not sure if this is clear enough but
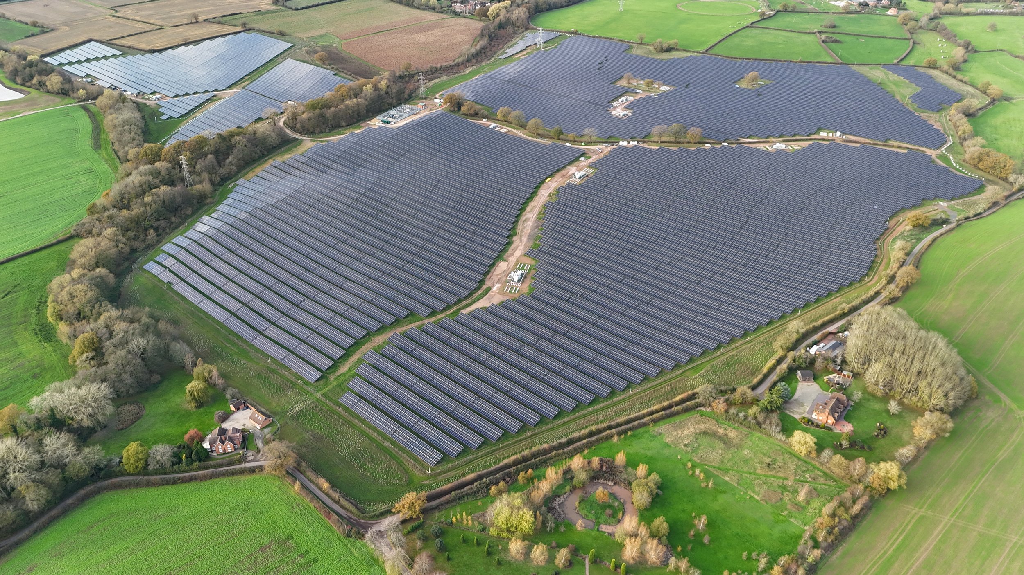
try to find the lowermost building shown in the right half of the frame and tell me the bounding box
[808,390,855,425]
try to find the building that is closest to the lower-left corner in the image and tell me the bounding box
[200,421,245,455]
